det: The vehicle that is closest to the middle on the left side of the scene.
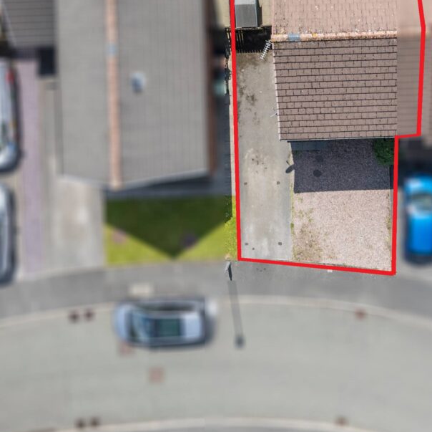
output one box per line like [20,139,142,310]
[114,297,217,349]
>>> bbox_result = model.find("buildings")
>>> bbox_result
[56,0,215,191]
[234,0,258,29]
[273,0,427,142]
